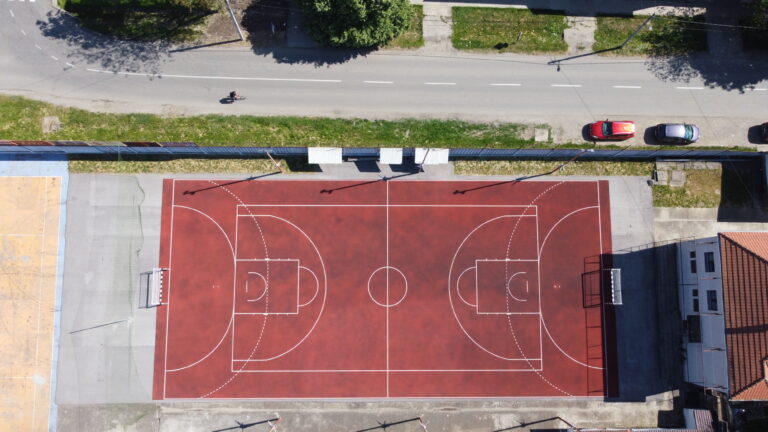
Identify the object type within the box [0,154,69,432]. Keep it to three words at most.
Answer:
sports court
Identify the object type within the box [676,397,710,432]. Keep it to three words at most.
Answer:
shed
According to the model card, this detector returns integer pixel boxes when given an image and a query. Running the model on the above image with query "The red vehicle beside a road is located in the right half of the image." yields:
[589,119,635,141]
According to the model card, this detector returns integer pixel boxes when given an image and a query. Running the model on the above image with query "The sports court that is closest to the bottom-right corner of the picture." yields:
[153,178,619,400]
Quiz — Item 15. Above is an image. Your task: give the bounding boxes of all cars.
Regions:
[653,122,699,142]
[756,124,768,142]
[589,119,635,141]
